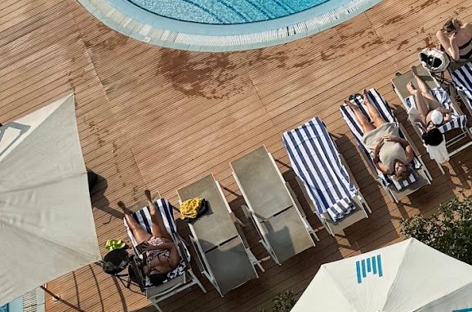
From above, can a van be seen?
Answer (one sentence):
No, the scene contains no van.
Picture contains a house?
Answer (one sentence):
No, no house is visible in the view.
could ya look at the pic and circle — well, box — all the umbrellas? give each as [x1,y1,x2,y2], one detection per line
[292,238,472,312]
[0,95,99,301]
